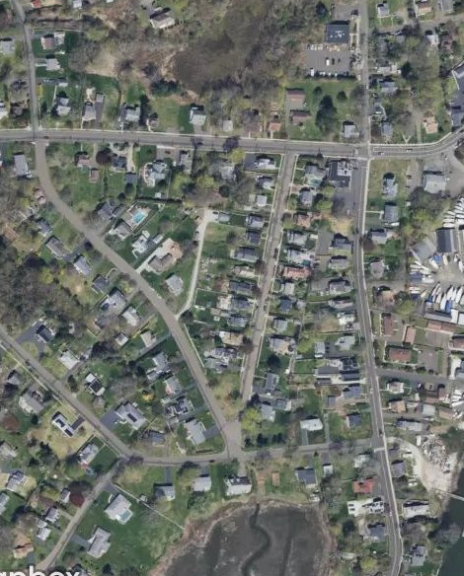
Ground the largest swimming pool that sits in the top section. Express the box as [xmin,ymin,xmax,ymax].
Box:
[130,209,147,226]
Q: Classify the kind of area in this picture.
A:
residential area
